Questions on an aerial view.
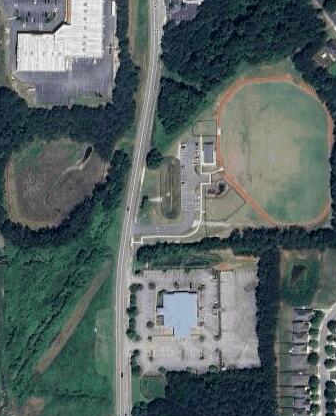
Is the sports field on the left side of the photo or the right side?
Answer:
right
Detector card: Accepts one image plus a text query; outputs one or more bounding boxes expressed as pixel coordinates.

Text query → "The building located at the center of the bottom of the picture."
[155,293,198,337]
